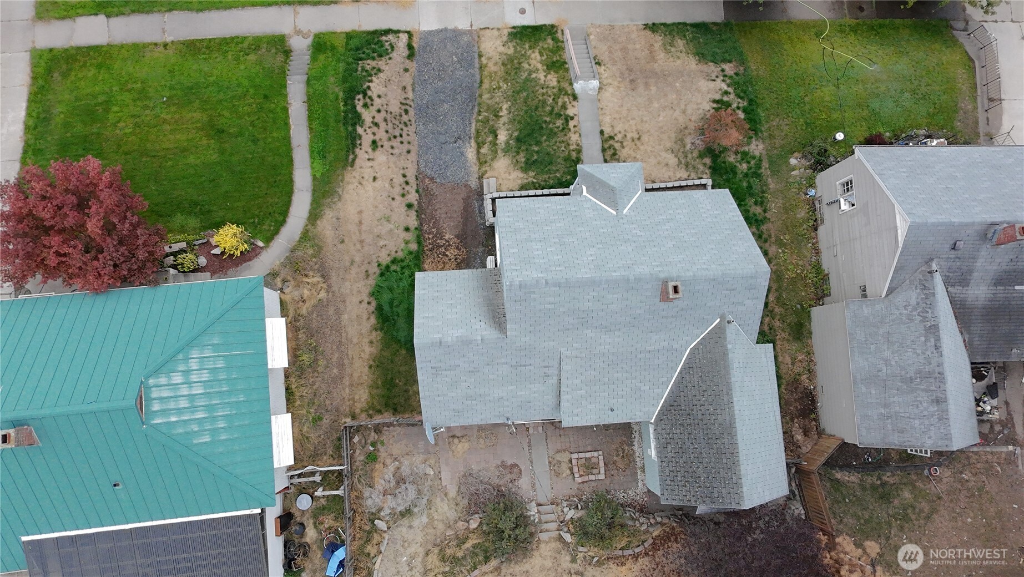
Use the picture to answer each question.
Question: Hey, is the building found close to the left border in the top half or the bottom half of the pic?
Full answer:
It is in the bottom half that the building found close to the left border appears.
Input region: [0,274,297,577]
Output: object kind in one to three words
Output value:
building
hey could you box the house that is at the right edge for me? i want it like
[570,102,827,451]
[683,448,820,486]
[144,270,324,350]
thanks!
[811,142,1024,451]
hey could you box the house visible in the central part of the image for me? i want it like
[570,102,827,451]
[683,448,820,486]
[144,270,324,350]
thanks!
[413,162,789,514]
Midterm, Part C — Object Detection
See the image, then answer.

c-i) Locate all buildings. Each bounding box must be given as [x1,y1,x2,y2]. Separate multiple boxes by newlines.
[811,142,1024,451]
[0,274,297,577]
[413,162,789,514]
